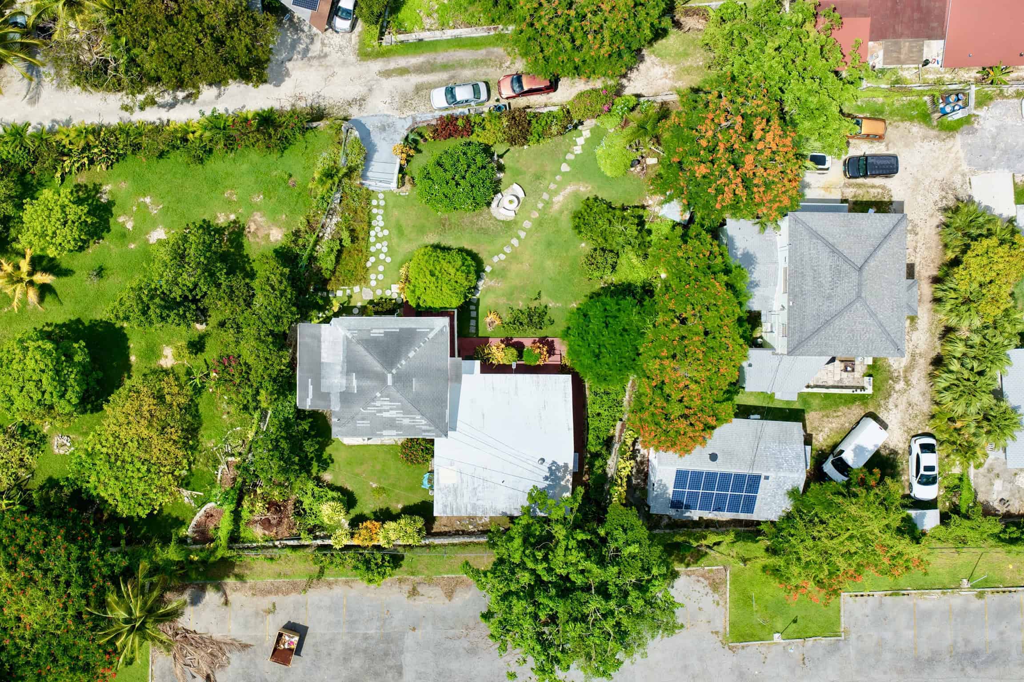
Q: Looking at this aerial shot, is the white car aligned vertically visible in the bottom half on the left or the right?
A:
right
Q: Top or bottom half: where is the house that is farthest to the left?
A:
top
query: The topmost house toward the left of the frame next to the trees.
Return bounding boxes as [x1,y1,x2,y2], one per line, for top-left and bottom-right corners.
[283,0,334,37]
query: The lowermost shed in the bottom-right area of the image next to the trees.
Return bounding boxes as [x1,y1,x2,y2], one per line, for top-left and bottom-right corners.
[902,507,940,532]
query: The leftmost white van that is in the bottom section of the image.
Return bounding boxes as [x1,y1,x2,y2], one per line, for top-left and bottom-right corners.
[825,419,887,480]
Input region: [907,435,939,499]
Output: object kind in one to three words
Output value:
car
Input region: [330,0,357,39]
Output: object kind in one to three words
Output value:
car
